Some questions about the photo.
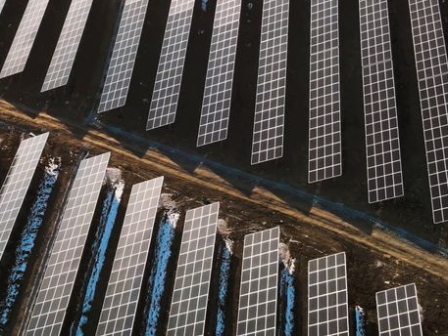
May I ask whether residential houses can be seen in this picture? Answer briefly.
No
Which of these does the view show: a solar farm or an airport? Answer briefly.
solar farm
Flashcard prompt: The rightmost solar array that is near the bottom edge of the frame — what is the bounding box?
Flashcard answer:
[376,284,419,336]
